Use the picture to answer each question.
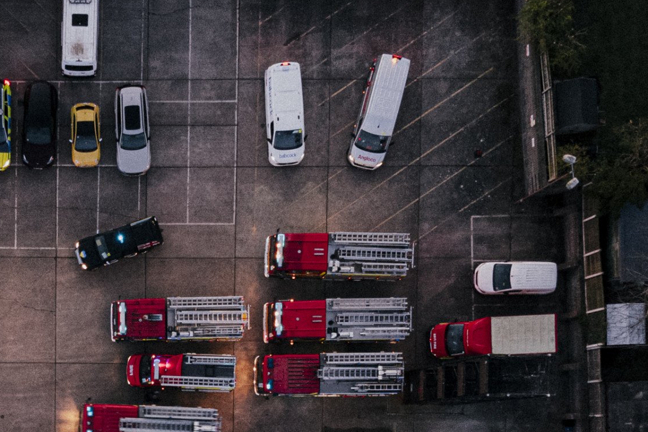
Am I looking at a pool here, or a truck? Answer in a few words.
truck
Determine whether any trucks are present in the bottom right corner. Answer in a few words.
Yes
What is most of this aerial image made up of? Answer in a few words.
paved ground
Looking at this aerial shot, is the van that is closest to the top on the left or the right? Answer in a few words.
left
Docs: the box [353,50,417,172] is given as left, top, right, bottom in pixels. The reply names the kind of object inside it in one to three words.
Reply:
van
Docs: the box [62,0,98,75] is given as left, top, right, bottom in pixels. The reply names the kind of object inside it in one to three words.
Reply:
van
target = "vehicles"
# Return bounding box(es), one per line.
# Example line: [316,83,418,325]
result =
[76,395,220,432]
[109,292,247,348]
[126,352,237,390]
[0,80,14,171]
[353,50,417,172]
[259,293,410,349]
[260,227,413,283]
[265,58,307,167]
[68,104,104,168]
[19,80,59,170]
[73,215,165,271]
[423,312,564,357]
[473,258,562,297]
[249,347,405,403]
[112,85,153,175]
[62,0,98,75]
